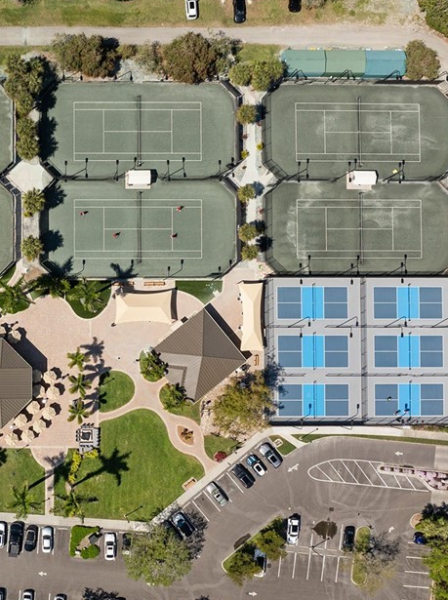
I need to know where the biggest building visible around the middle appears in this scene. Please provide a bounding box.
[153,308,246,404]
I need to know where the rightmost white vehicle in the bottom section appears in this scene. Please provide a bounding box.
[287,516,301,543]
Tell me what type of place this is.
sports ground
